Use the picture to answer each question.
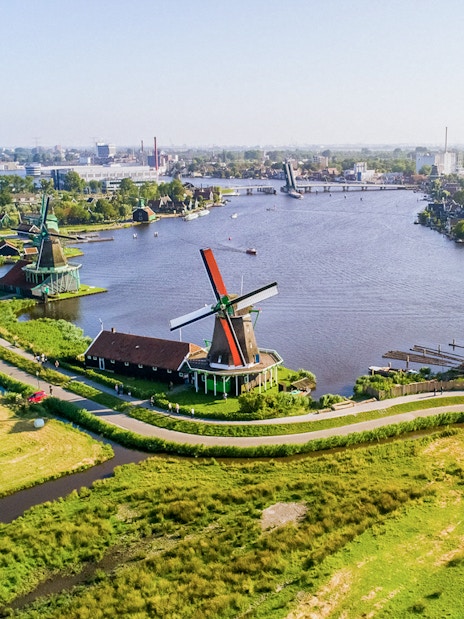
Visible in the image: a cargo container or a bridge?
bridge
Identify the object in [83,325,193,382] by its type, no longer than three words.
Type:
house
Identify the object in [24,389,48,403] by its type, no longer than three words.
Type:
car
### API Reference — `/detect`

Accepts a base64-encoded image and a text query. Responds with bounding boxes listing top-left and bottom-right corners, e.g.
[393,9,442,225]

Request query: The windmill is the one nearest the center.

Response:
[170,245,282,398]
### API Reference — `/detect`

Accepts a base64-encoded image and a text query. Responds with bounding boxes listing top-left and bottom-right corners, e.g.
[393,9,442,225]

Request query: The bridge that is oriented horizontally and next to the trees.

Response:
[210,158,421,196]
